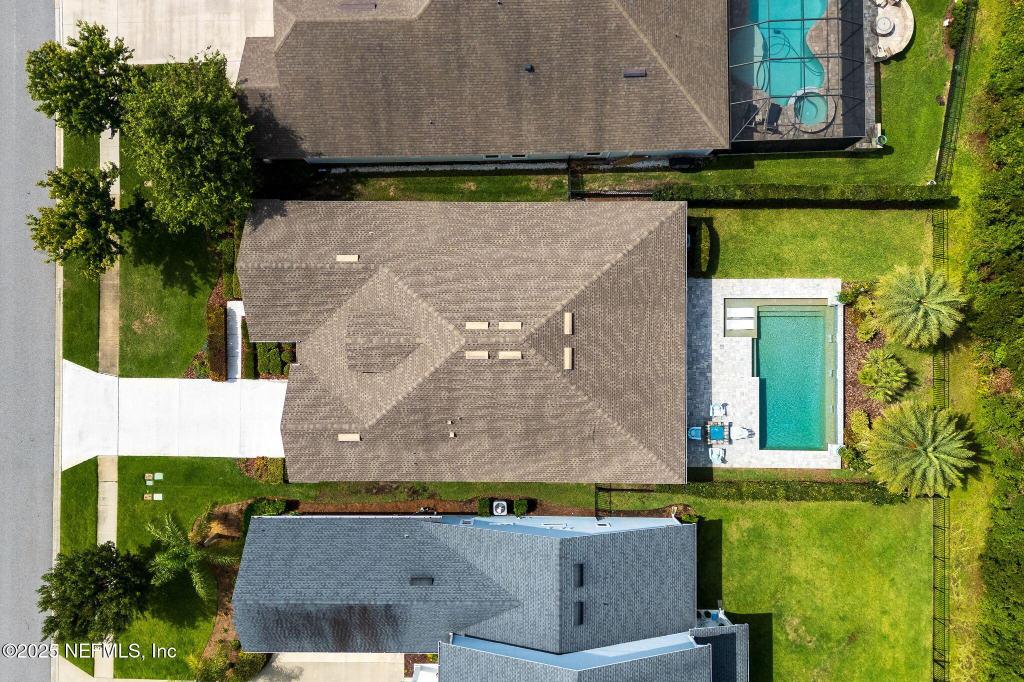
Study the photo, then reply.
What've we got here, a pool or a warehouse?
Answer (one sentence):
The image shows a pool.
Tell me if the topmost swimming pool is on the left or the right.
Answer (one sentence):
The topmost swimming pool sits on the right side.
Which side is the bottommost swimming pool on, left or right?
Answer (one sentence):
The bottommost swimming pool sits on the right side.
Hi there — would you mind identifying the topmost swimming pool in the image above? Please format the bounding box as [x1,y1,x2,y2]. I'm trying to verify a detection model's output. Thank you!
[730,0,832,108]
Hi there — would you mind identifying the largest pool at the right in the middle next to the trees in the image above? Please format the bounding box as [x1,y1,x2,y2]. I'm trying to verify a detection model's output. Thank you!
[725,297,845,452]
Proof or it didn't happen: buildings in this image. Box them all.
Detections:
[236,0,730,166]
[237,199,689,486]
[235,508,751,682]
